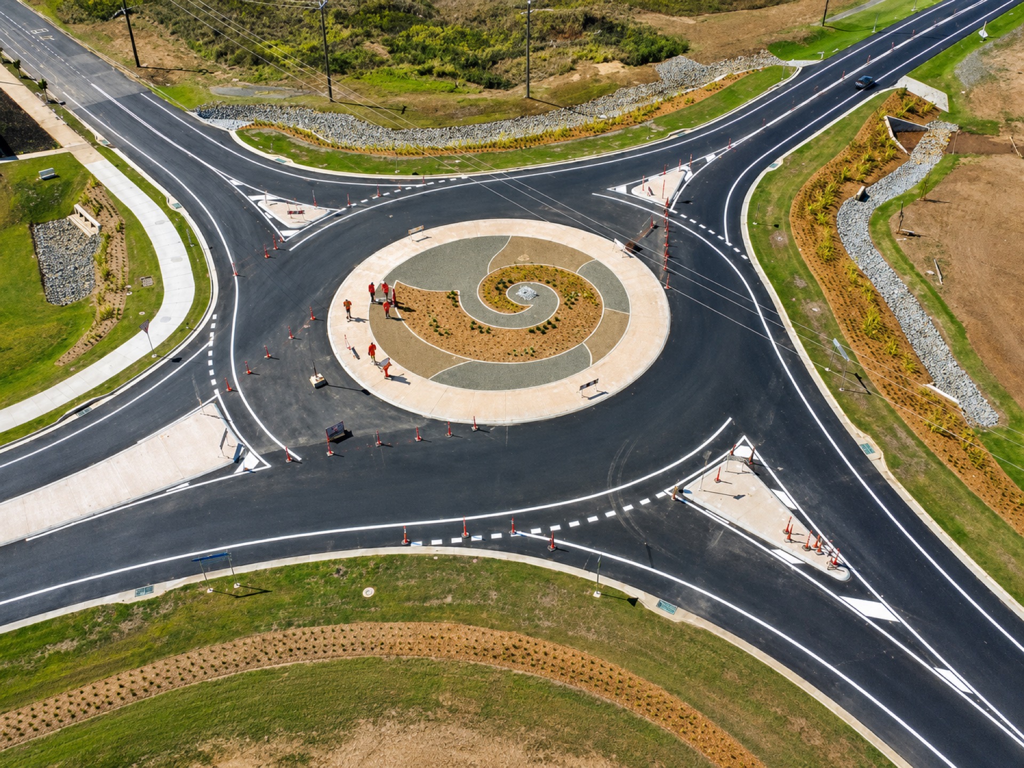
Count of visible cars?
one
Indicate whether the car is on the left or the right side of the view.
right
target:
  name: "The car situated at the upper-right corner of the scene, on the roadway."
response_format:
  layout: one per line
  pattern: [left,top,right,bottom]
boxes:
[852,70,879,90]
